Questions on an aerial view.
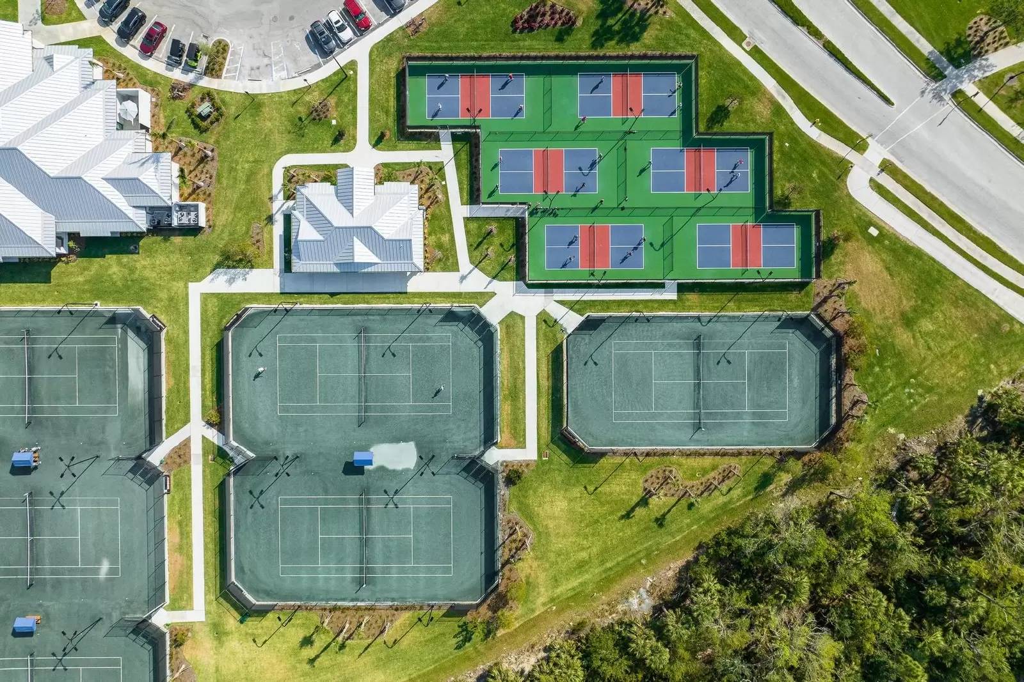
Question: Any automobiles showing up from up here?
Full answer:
Yes, looking at the shot, I can spot an automobile.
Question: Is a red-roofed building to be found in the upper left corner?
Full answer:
No, no red-roofed building can be made out in the upper left corner.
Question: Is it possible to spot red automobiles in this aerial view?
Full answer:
Yes, you can see a red automobile in this photo.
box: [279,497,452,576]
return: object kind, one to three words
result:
tennis court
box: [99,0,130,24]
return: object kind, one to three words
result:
car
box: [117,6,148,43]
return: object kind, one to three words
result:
car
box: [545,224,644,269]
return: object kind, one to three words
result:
sports court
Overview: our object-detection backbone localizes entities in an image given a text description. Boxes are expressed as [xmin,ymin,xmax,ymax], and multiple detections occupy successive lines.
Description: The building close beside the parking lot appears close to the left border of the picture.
[0,19,205,257]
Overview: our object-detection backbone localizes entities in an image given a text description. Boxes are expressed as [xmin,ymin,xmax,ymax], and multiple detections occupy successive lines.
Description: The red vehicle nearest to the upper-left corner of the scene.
[138,19,167,57]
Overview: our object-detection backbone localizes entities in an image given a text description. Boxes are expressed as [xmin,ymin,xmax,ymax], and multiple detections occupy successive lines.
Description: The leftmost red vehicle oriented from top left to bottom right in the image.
[341,0,371,31]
